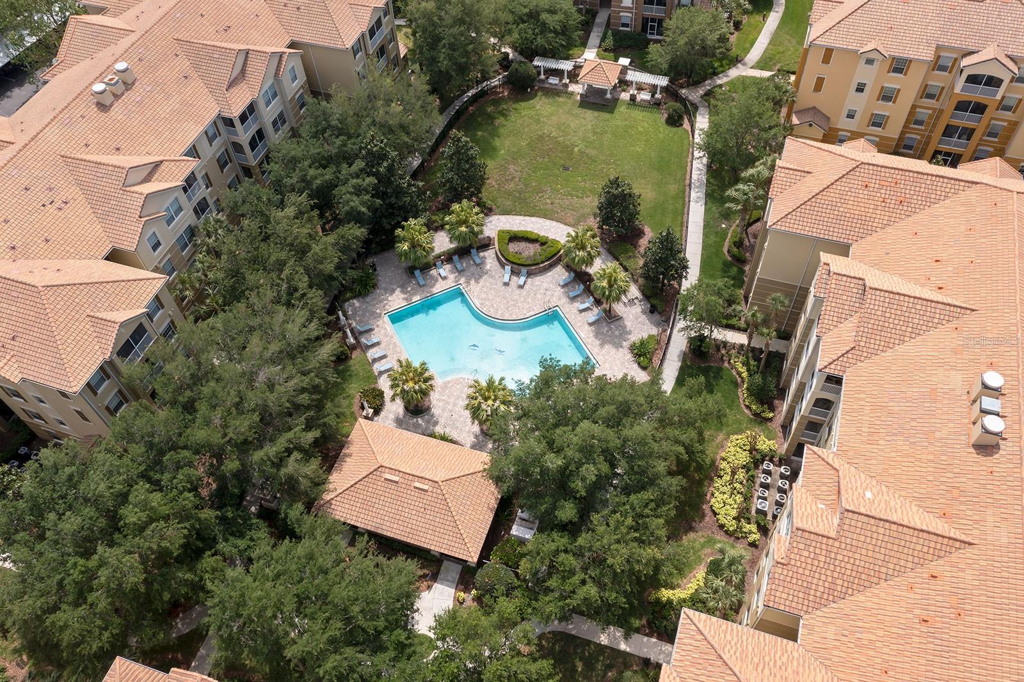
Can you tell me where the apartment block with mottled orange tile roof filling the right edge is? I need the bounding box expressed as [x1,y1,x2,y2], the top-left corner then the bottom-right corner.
[656,134,1024,682]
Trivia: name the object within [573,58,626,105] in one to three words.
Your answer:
gazebo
